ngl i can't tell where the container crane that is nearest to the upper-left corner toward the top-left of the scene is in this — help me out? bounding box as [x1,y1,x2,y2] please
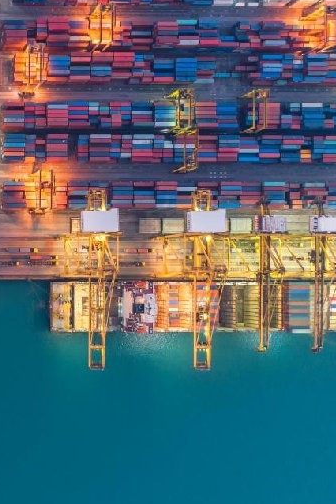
[21,46,45,97]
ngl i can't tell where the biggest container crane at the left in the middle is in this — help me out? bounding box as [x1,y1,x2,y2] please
[55,188,122,369]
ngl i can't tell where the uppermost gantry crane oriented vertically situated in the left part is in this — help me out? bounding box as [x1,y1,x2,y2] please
[92,0,116,53]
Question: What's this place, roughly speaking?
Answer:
port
